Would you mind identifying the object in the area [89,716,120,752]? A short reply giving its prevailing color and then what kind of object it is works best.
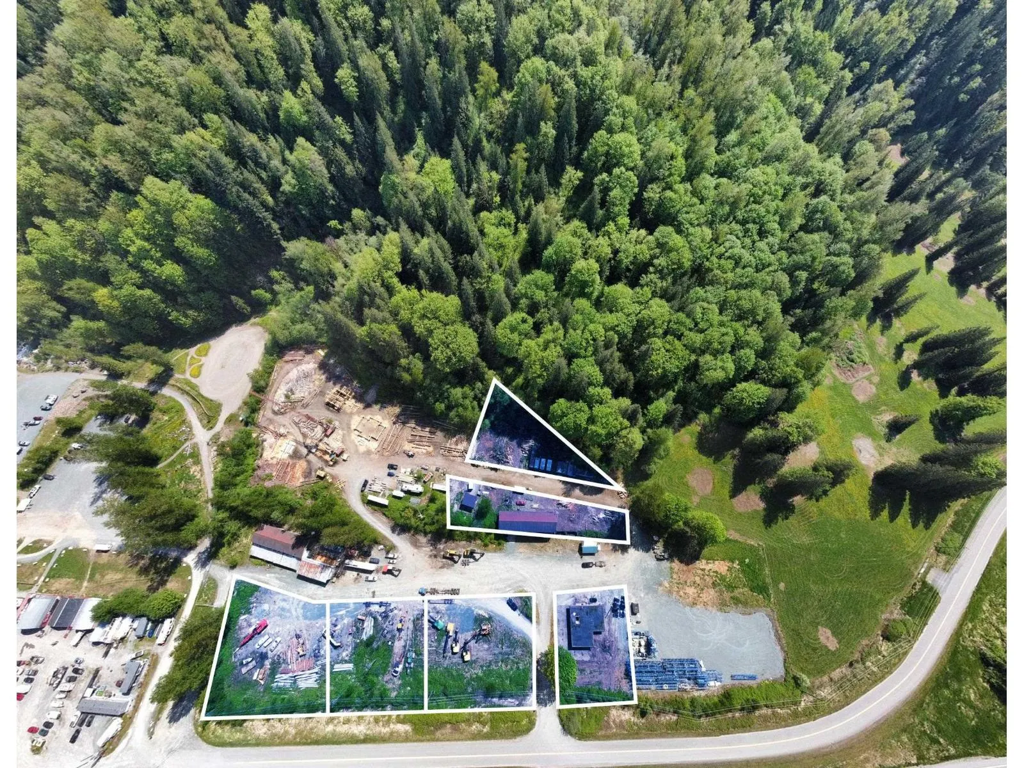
white bus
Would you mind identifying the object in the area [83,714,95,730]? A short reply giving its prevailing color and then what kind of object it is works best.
gray vehicle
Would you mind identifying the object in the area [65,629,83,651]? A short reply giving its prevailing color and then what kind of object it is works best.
white vehicle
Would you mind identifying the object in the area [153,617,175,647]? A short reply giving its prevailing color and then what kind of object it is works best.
white camper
